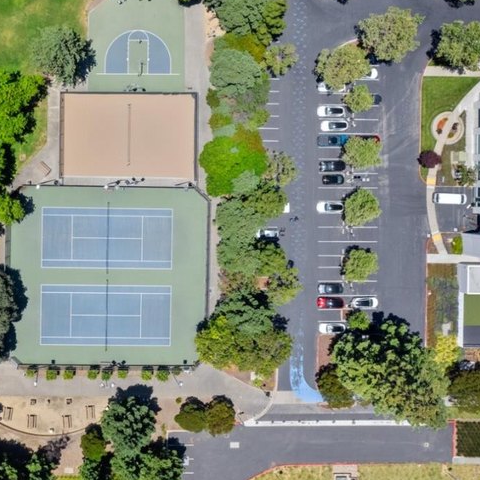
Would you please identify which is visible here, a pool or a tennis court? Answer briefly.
tennis court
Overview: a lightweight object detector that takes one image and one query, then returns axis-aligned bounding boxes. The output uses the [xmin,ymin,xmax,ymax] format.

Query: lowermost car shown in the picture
[319,322,347,334]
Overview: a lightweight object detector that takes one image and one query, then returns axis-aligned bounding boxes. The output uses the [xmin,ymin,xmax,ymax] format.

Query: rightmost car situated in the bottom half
[350,297,378,309]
